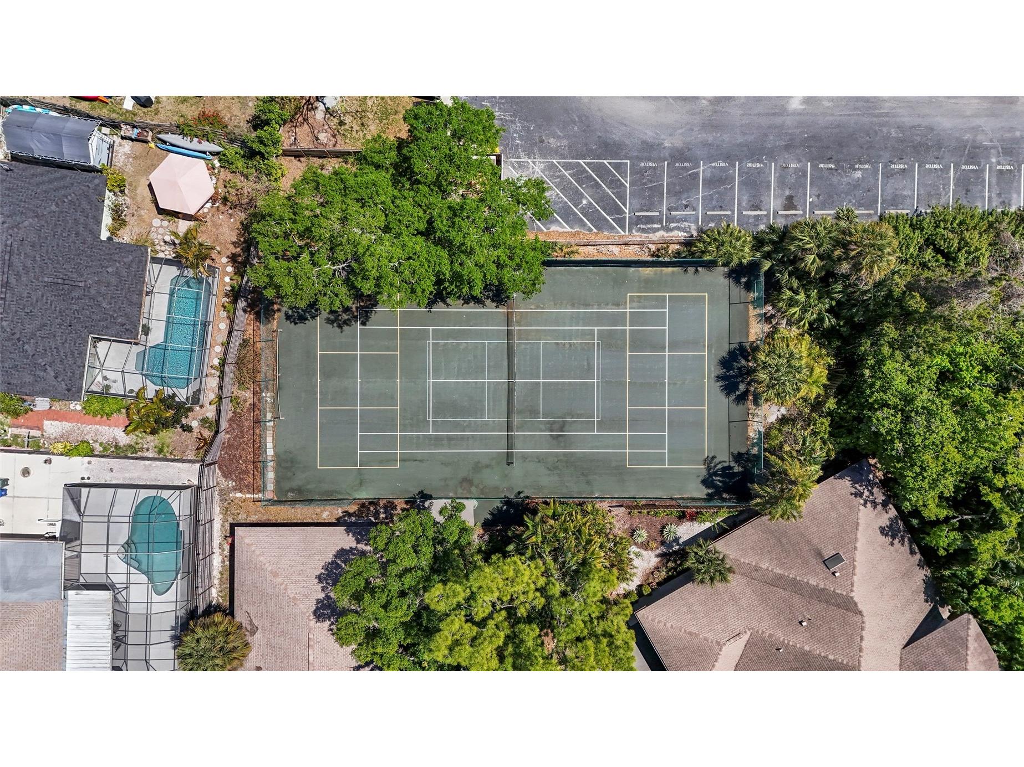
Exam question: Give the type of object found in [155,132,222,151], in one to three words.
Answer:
boat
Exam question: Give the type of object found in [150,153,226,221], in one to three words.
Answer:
gazebo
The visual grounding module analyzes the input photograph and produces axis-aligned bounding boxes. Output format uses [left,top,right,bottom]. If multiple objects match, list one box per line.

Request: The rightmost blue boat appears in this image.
[155,144,210,157]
